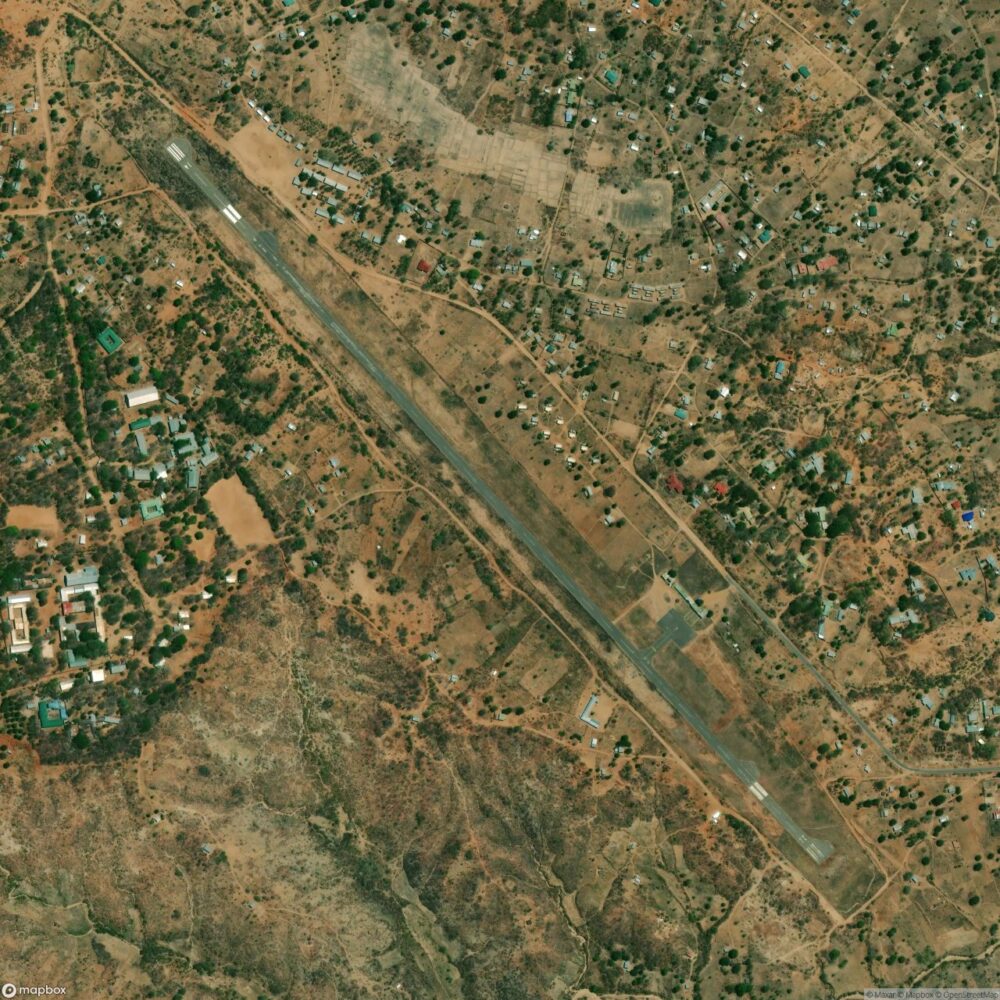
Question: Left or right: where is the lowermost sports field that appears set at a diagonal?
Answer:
left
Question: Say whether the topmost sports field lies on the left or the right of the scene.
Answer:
left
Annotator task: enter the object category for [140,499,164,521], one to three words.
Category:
building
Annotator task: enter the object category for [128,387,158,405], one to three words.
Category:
building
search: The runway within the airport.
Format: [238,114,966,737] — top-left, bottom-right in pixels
[164,140,826,864]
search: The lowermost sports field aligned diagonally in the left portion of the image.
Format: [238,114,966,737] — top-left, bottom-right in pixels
[207,475,275,548]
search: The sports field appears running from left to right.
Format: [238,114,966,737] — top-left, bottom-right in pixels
[7,505,60,529]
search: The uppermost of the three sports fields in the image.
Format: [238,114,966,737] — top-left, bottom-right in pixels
[229,121,302,196]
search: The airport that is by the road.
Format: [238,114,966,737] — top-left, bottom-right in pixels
[164,137,831,864]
